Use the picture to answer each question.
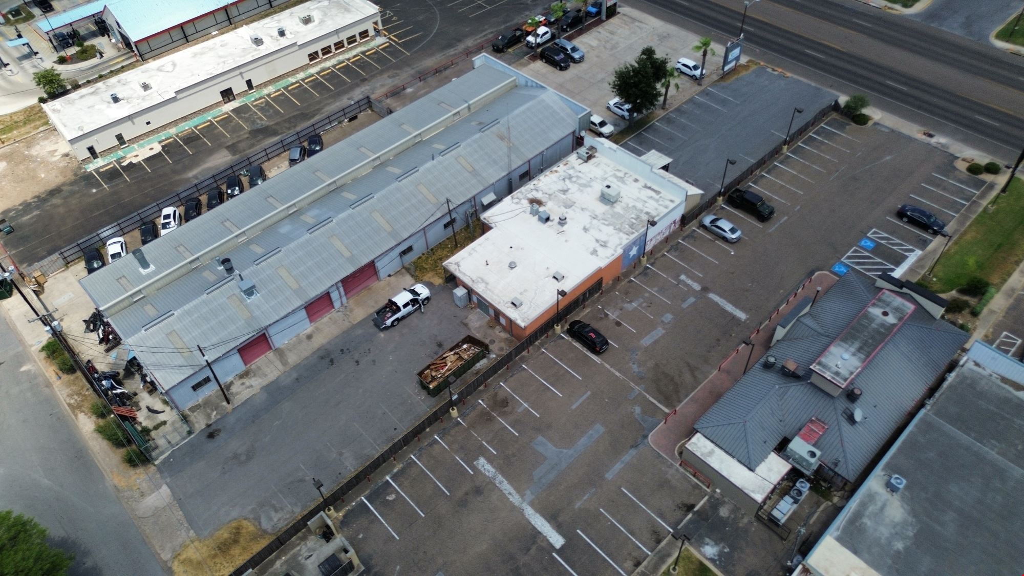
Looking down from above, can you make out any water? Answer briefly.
No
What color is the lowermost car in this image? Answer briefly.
black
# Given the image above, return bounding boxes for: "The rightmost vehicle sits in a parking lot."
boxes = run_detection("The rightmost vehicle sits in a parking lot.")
[899,202,948,232]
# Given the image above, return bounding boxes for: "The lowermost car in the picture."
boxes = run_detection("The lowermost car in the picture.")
[566,315,613,354]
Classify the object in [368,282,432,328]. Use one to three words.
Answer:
truck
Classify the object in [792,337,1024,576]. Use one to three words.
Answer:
building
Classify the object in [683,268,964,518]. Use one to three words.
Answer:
building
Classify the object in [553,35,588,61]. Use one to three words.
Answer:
car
